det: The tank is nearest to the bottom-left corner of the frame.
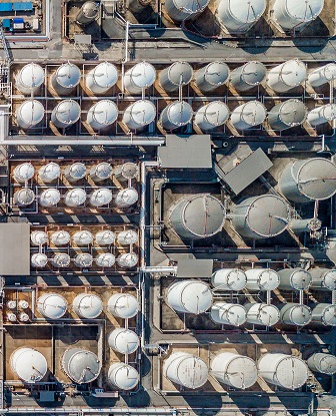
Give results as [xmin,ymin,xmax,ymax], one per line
[8,343,47,383]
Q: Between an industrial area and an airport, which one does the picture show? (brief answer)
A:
industrial area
